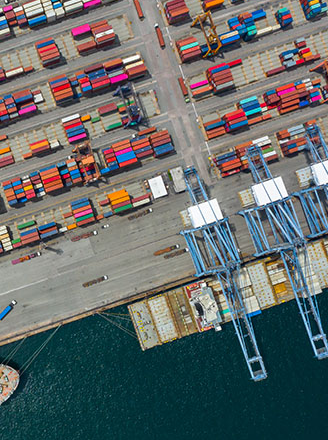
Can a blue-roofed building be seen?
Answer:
No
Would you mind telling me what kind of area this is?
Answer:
port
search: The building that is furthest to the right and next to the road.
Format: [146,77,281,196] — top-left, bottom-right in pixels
[169,165,187,193]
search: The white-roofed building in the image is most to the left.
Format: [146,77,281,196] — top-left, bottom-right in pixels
[148,174,169,198]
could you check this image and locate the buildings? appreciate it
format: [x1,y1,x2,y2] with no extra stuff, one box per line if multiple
[148,174,169,198]
[169,165,187,193]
